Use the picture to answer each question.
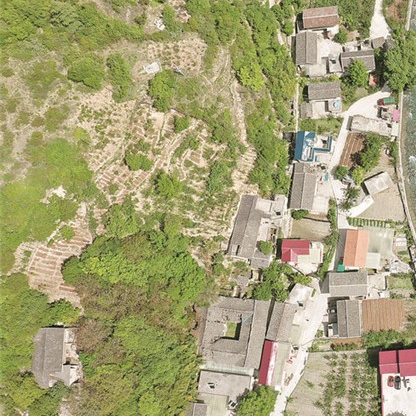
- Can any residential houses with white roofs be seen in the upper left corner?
No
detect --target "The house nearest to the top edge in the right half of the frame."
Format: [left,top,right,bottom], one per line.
[303,5,340,36]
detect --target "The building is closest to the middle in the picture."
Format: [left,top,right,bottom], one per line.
[228,194,290,267]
